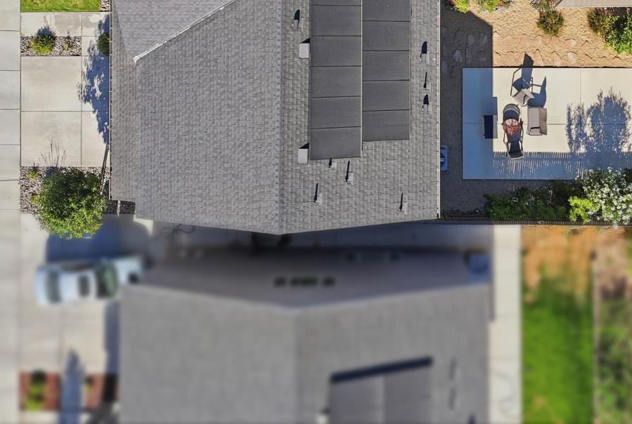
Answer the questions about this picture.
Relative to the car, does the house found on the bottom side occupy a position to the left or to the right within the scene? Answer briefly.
right of it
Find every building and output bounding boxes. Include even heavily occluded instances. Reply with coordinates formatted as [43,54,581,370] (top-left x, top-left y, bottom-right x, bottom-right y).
[108,0,443,234]
[116,249,494,424]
